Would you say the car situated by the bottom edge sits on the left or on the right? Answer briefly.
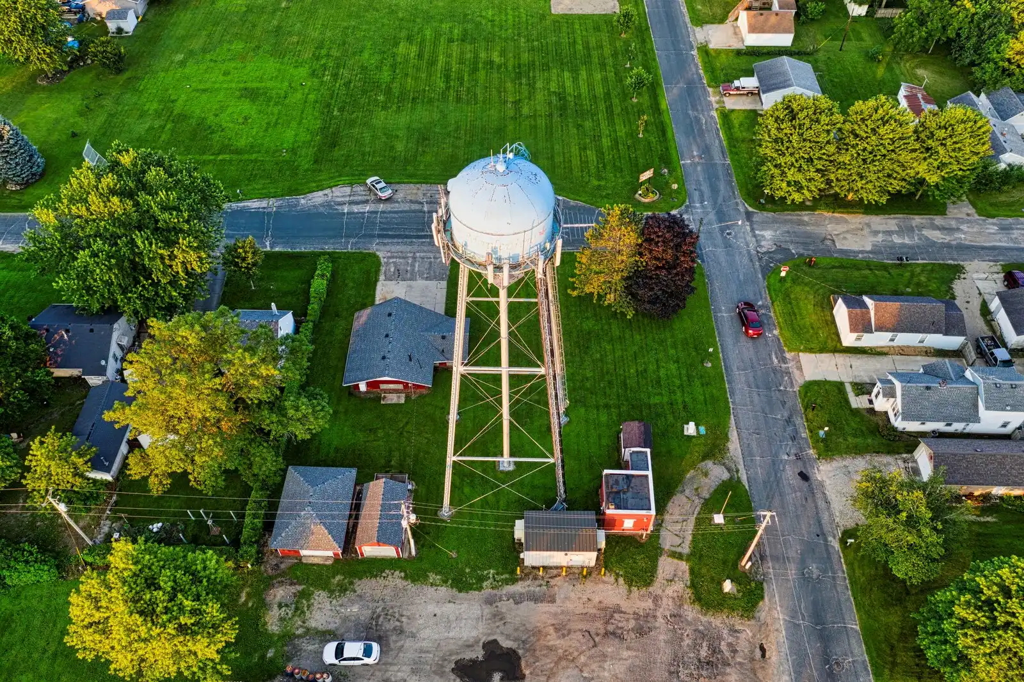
left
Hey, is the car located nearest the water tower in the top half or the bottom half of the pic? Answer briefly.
top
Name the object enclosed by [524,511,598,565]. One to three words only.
shed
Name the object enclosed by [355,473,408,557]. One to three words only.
building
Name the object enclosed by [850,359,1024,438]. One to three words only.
house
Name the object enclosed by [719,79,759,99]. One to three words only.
vehicle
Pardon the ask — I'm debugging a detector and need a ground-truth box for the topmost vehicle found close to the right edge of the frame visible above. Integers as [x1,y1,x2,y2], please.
[996,270,1024,290]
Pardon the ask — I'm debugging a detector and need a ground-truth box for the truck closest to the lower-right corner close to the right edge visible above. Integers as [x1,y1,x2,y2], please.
[972,331,1011,367]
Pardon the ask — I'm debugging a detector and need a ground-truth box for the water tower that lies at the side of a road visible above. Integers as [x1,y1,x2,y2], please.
[430,134,570,523]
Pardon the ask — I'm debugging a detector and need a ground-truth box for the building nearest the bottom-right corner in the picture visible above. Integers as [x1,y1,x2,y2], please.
[918,438,1024,500]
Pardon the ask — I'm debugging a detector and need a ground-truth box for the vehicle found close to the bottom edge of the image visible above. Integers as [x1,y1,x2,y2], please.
[322,639,380,667]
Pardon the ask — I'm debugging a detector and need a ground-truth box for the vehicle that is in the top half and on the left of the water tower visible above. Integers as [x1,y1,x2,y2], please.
[366,177,394,201]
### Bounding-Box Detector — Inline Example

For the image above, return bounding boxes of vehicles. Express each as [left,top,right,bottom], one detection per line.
[322,639,380,667]
[366,177,394,201]
[719,79,759,99]
[735,303,763,336]
[996,270,1024,290]
[972,331,1011,367]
